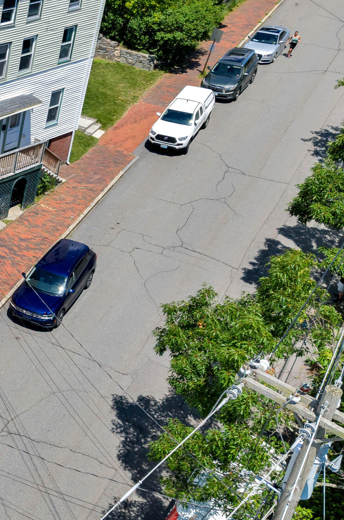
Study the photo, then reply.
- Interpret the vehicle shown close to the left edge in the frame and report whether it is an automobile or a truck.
automobile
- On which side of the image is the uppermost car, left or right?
right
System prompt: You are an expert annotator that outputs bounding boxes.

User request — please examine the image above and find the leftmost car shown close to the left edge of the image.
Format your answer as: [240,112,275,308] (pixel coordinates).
[8,236,103,332]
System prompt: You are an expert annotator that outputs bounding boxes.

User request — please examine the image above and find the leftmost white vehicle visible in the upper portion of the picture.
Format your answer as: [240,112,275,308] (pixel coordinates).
[147,84,220,157]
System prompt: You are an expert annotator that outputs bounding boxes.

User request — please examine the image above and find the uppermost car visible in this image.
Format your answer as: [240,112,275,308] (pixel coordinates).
[244,23,293,63]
